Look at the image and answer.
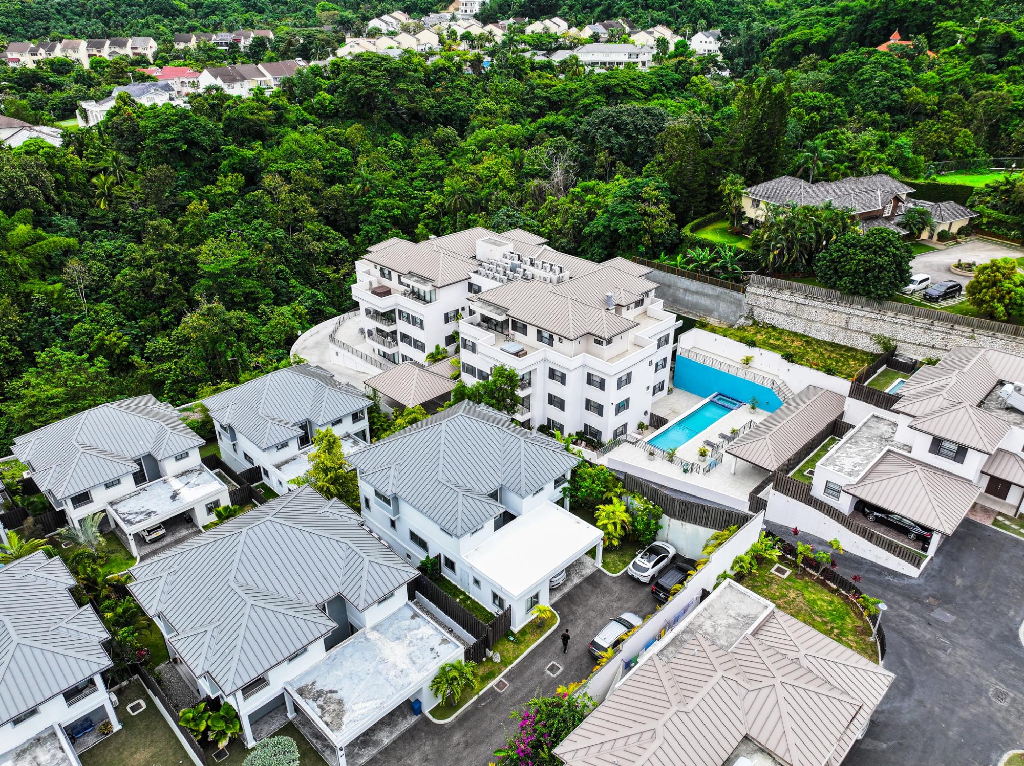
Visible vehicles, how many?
eight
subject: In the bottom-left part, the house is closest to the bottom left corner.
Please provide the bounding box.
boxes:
[0,550,116,766]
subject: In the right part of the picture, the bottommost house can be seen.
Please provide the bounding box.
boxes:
[553,572,896,766]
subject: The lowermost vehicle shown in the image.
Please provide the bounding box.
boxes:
[581,610,643,668]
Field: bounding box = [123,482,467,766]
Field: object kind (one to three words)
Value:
house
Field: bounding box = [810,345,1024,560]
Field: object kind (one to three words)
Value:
house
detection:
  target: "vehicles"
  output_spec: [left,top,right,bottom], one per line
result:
[140,524,177,557]
[581,610,643,668]
[648,550,704,597]
[925,277,964,302]
[550,568,576,597]
[859,502,937,546]
[903,273,938,294]
[621,543,679,593]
